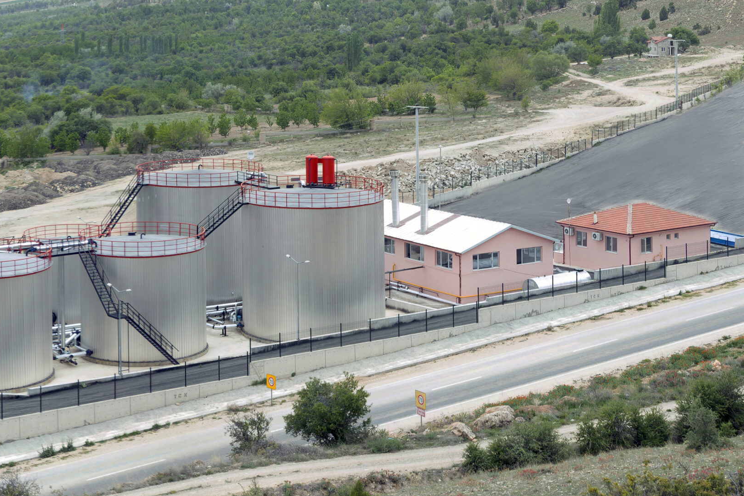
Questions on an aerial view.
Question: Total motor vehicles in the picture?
0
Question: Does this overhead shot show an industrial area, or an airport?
industrial area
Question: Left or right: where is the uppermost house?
right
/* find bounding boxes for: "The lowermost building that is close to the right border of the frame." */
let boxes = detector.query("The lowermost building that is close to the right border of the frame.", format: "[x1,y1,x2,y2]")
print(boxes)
[559,198,715,271]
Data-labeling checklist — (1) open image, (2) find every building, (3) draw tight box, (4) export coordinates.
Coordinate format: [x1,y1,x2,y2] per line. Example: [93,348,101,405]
[646,30,679,56]
[559,198,715,271]
[383,166,563,304]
